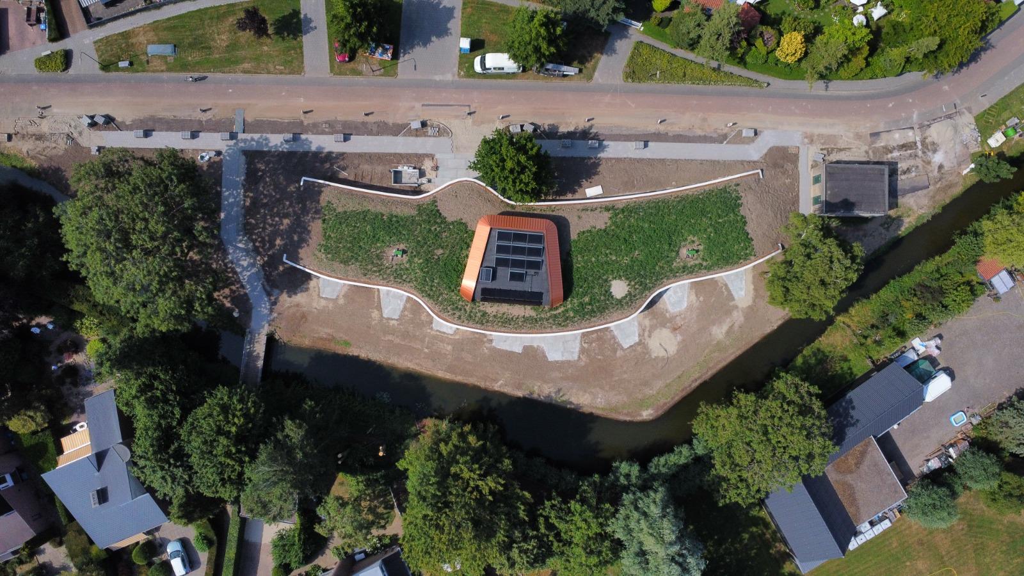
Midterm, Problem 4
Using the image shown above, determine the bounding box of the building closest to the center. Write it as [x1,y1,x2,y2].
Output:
[461,216,564,308]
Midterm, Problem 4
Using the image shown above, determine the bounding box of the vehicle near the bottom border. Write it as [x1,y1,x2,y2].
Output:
[168,541,193,576]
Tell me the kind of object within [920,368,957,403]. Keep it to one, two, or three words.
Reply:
camper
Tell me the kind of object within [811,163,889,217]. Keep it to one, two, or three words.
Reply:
building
